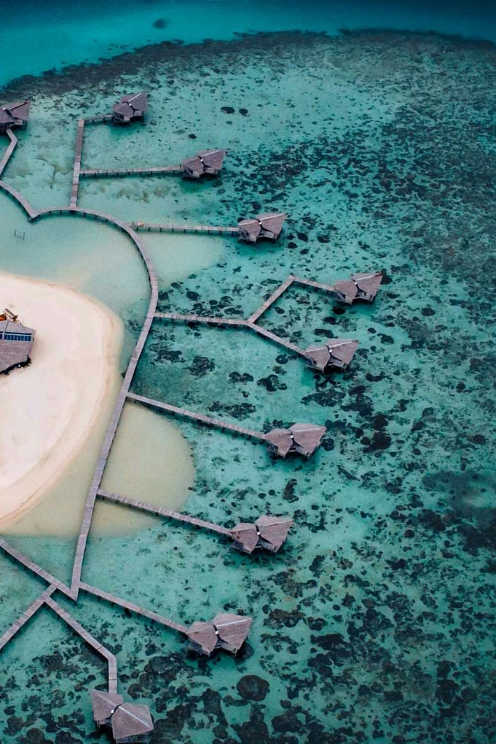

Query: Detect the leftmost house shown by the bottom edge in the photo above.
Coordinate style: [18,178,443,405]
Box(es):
[86,691,153,744]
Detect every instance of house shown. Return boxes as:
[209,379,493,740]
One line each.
[233,214,287,250]
[325,273,382,315]
[256,421,326,469]
[178,151,226,187]
[225,513,293,563]
[182,609,252,663]
[110,90,152,130]
[86,691,153,744]
[0,102,32,142]
[296,337,359,383]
